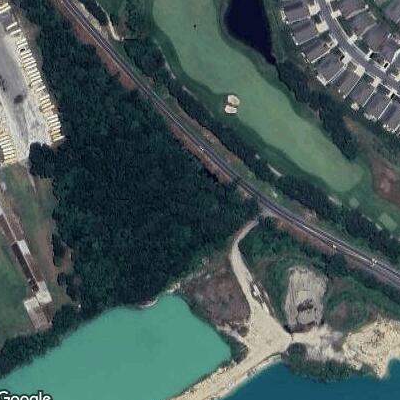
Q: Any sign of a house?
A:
Yes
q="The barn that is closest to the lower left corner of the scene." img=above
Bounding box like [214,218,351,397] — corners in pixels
[25,298,48,327]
